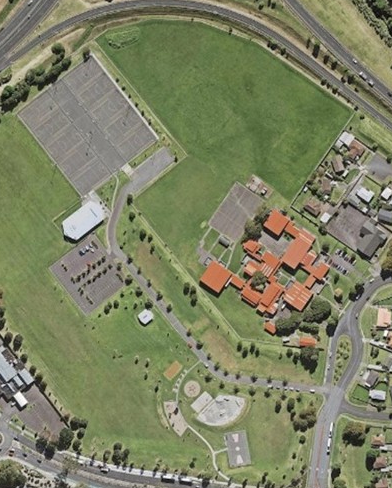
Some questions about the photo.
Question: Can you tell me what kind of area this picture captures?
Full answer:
What you see here is a sports ground.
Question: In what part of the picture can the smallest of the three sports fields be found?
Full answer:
The smallest of the three sports fields is in the center part of the image.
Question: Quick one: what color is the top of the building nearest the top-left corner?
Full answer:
From above, the roof of the building nearest the top-left corner looks white.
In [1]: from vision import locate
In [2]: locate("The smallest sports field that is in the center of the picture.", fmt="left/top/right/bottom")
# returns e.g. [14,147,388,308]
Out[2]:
[132,157,236,280]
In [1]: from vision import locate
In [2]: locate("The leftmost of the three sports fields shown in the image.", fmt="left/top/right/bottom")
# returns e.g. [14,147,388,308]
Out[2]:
[0,118,165,463]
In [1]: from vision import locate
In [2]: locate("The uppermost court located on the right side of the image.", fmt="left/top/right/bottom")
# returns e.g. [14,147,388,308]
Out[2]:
[209,182,265,242]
